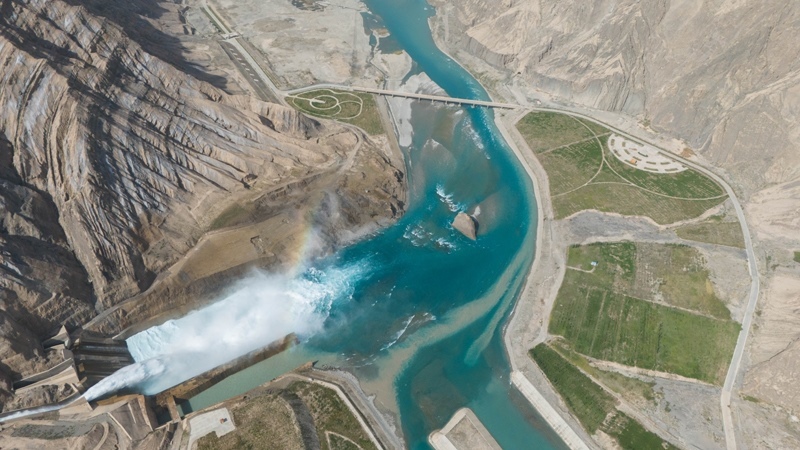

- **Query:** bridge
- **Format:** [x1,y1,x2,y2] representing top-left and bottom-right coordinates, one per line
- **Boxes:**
[373,89,521,112]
